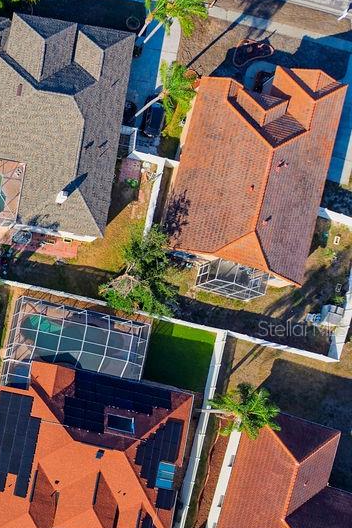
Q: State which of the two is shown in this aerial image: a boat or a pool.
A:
pool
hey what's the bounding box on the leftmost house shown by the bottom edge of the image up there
[0,361,193,528]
